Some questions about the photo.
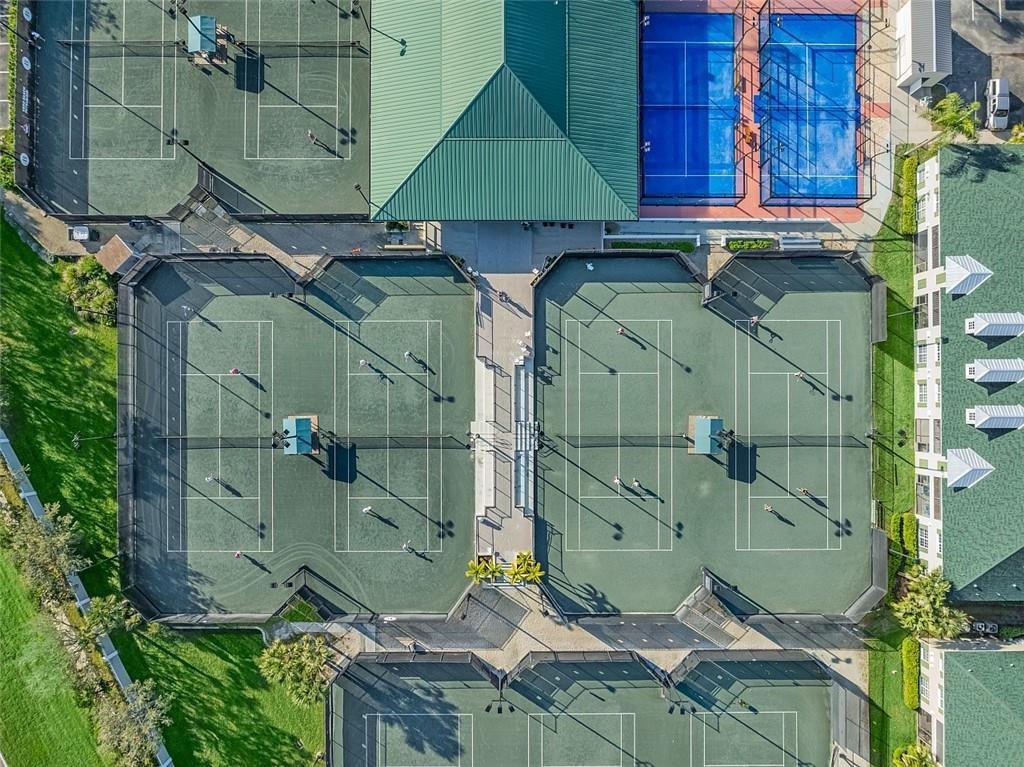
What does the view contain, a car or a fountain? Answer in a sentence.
There is a car in the scene.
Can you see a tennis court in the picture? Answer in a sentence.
Yes, this view includes a tennis court.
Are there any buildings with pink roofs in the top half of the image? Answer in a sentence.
No, no building with a pink roof can be made out in the top half of the image.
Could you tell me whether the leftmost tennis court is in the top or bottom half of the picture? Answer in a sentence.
The leftmost tennis court sits in the top half of the picture.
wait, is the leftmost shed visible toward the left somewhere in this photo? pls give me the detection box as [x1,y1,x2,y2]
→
[95,234,145,276]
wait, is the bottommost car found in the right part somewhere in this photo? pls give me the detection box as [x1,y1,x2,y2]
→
[981,82,1009,130]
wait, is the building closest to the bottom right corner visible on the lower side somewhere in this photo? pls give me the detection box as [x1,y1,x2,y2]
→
[919,638,1024,767]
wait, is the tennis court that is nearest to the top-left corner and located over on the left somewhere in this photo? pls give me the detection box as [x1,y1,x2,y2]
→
[37,0,209,217]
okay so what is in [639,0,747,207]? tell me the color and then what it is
blue sports court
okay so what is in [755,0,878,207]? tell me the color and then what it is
blue sports court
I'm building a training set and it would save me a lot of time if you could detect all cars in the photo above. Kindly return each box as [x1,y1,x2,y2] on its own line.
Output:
[981,82,1009,130]
[1002,0,1024,9]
